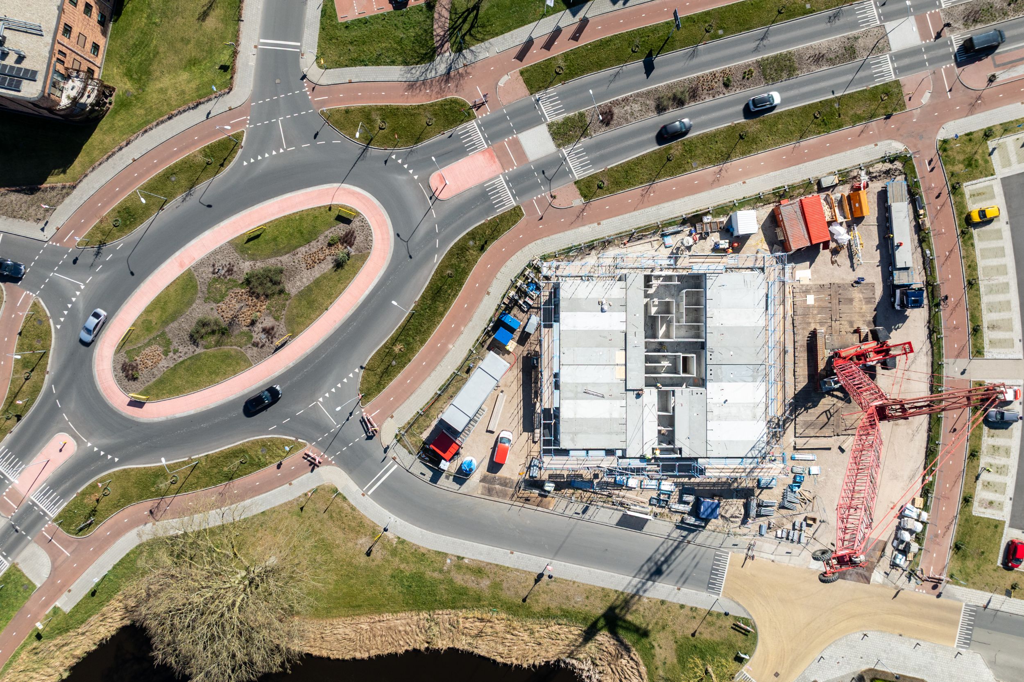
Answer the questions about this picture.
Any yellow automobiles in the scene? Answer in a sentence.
Yes, there's a yellow automobile down there.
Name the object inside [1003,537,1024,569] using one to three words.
car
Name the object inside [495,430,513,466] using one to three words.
vehicle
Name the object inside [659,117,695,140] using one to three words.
car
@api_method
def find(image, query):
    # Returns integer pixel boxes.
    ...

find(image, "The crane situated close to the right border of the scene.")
[629,326,1017,591]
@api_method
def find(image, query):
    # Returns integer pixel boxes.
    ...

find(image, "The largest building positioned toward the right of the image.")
[558,273,766,459]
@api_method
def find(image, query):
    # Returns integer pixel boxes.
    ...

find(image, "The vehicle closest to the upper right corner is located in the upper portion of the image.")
[962,29,1004,54]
